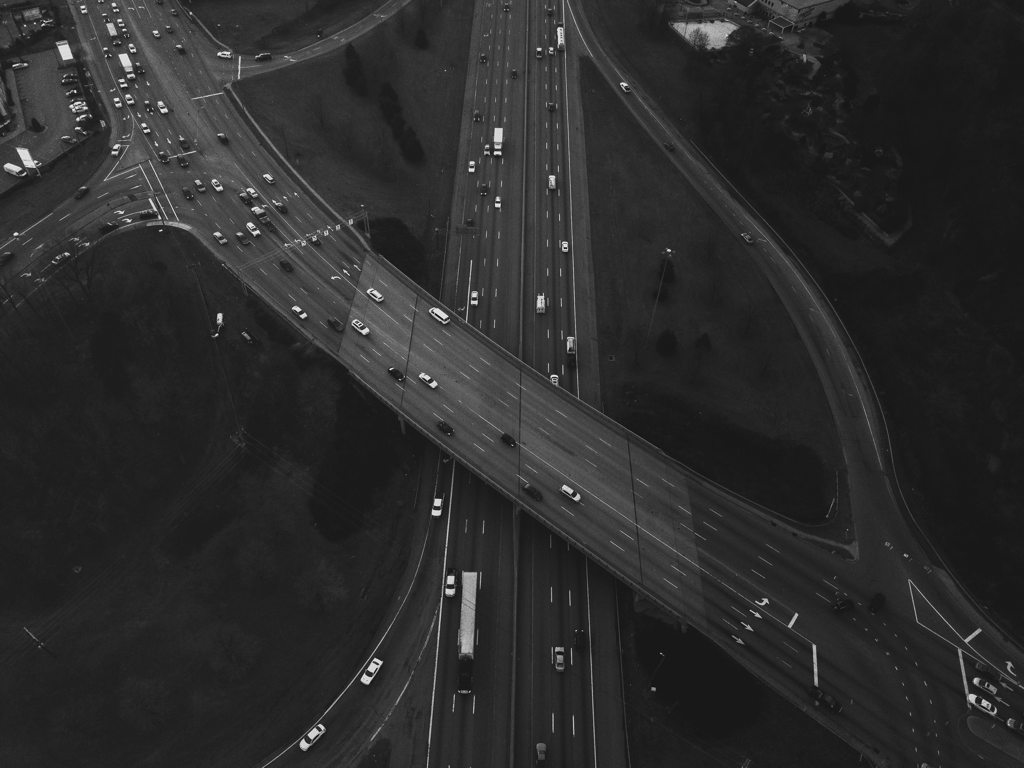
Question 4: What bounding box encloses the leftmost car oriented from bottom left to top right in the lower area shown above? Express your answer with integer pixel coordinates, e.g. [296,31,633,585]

[300,724,326,752]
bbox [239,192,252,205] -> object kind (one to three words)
vehicle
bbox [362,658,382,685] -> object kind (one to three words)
car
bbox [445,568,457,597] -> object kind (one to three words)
vehicle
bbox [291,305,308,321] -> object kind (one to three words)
car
